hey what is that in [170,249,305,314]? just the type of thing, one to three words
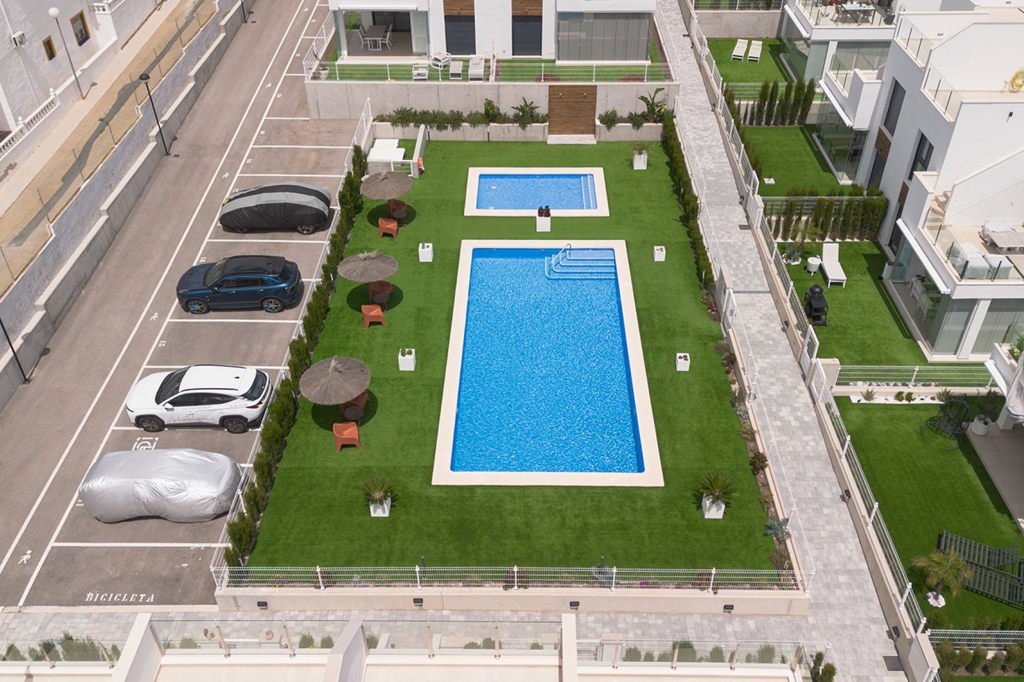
car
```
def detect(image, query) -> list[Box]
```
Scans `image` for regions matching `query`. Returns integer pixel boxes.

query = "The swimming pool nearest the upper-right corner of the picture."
[464,167,610,216]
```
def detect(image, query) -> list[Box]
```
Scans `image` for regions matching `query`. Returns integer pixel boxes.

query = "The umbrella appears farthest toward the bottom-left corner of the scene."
[296,354,373,422]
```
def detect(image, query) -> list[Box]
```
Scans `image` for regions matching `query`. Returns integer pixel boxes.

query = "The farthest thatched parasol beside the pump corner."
[362,168,413,219]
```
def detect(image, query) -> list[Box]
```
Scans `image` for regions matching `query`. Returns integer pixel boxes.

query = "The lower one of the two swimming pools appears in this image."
[432,239,664,486]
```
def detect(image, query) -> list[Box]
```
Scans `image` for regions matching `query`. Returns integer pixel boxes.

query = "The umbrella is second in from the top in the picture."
[332,250,397,303]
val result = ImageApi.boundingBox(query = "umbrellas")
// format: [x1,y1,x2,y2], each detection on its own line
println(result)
[332,250,397,303]
[296,354,373,422]
[362,168,413,219]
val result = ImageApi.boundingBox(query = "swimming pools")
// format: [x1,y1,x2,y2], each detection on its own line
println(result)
[464,167,610,216]
[432,239,664,486]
